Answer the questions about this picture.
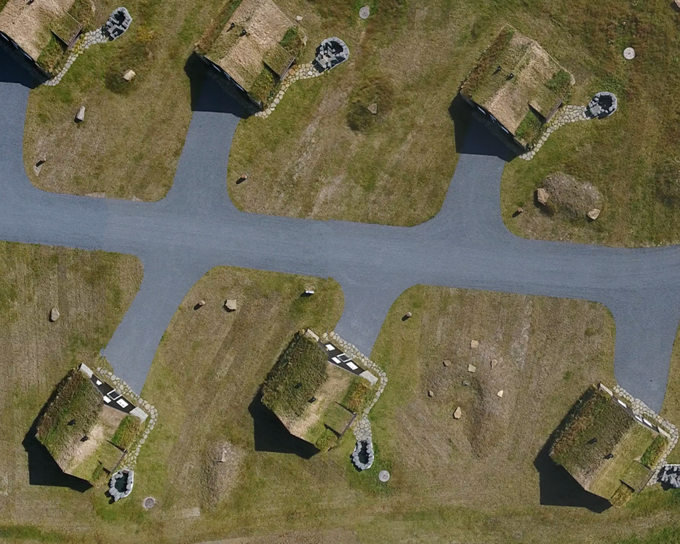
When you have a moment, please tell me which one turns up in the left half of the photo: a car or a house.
house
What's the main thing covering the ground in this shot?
grass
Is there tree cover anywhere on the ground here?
No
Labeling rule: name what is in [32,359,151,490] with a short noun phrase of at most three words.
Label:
house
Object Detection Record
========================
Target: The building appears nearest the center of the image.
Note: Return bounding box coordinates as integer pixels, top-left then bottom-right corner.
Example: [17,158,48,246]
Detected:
[258,324,378,455]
